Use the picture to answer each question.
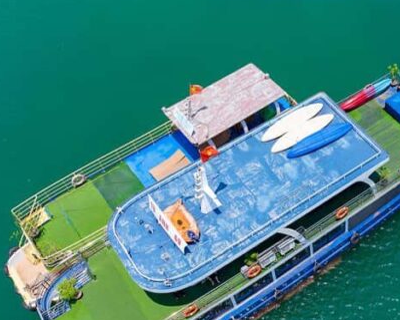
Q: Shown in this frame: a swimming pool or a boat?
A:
boat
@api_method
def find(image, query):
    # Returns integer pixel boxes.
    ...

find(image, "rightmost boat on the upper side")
[342,83,392,116]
